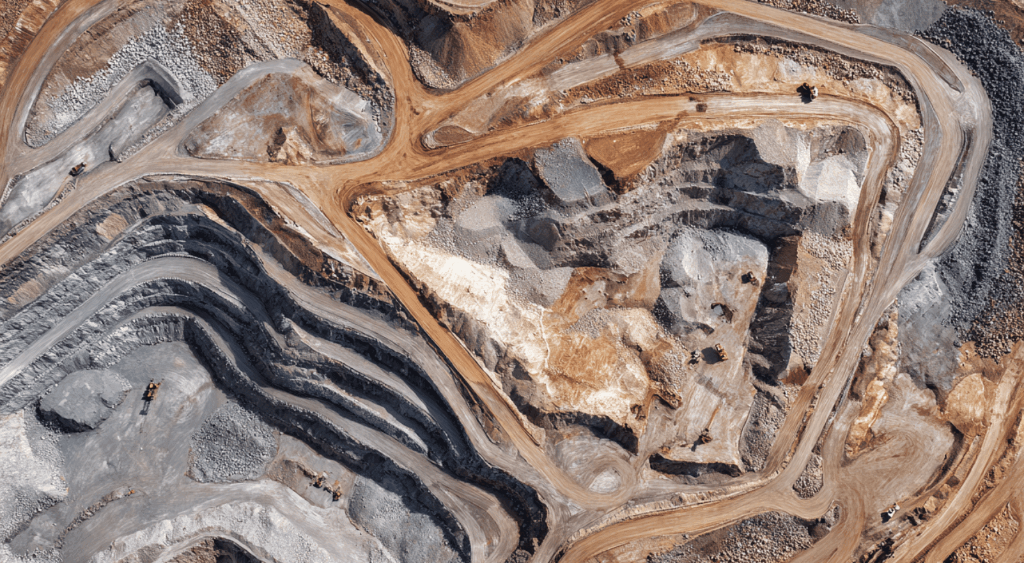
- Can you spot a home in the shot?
No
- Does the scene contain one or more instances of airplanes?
No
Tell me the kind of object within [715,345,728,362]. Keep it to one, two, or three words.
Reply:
vehicle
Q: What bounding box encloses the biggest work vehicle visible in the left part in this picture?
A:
[141,381,156,410]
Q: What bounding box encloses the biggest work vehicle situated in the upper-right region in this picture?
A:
[803,84,820,101]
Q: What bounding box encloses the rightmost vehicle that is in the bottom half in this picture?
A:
[886,504,902,517]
